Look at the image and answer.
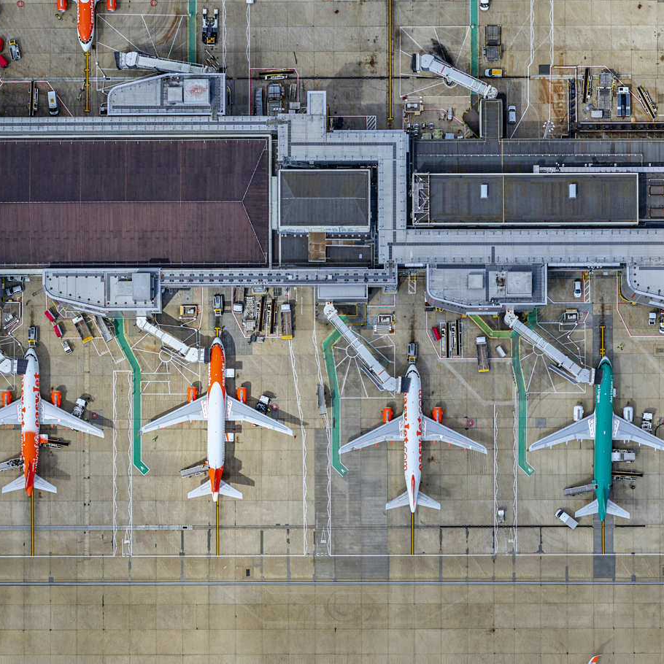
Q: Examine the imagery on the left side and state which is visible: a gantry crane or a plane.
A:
plane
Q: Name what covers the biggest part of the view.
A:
paved ground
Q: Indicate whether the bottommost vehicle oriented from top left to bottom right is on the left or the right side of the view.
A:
right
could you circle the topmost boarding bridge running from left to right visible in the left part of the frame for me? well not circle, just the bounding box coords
[107,49,219,74]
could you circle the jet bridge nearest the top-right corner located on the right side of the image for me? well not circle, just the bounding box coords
[404,53,498,99]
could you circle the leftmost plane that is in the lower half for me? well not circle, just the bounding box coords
[0,348,105,497]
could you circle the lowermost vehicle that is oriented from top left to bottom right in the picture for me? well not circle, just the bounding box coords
[555,508,578,531]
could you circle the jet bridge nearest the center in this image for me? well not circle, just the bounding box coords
[321,301,416,394]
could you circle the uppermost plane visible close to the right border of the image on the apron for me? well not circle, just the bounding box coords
[529,357,664,522]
